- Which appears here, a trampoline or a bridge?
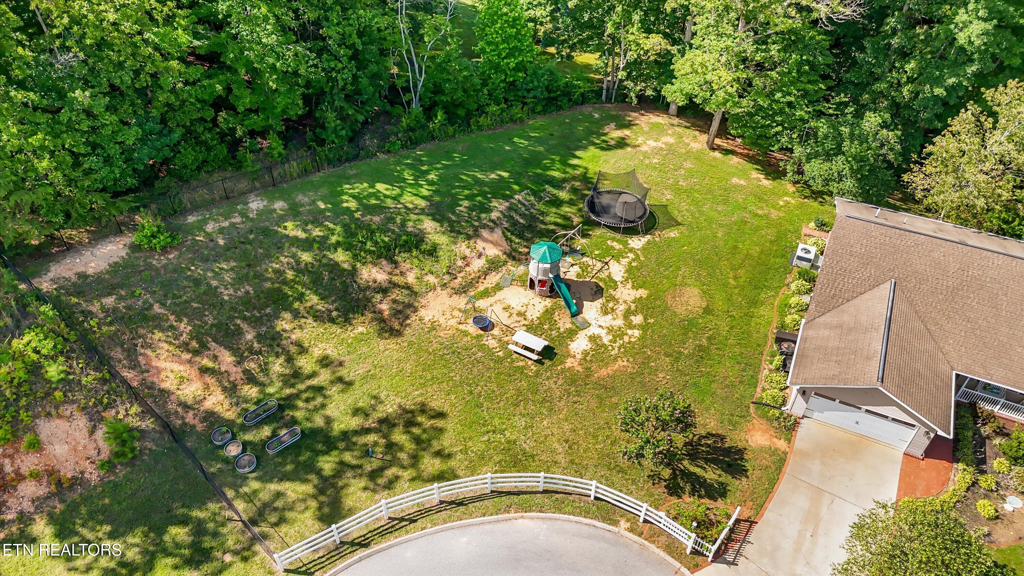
trampoline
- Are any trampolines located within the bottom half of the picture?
No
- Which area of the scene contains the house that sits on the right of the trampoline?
right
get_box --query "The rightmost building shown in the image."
[781,196,1024,460]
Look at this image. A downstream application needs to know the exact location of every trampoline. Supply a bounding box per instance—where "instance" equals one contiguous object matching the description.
[583,170,652,237]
